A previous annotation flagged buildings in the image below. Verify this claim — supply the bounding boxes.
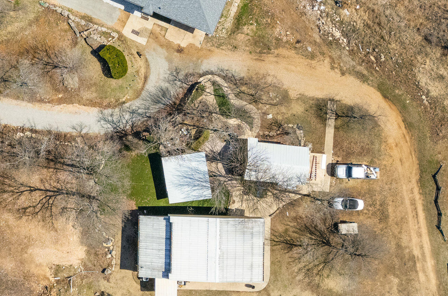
[243,138,310,189]
[137,212,266,283]
[162,152,211,203]
[125,0,228,36]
